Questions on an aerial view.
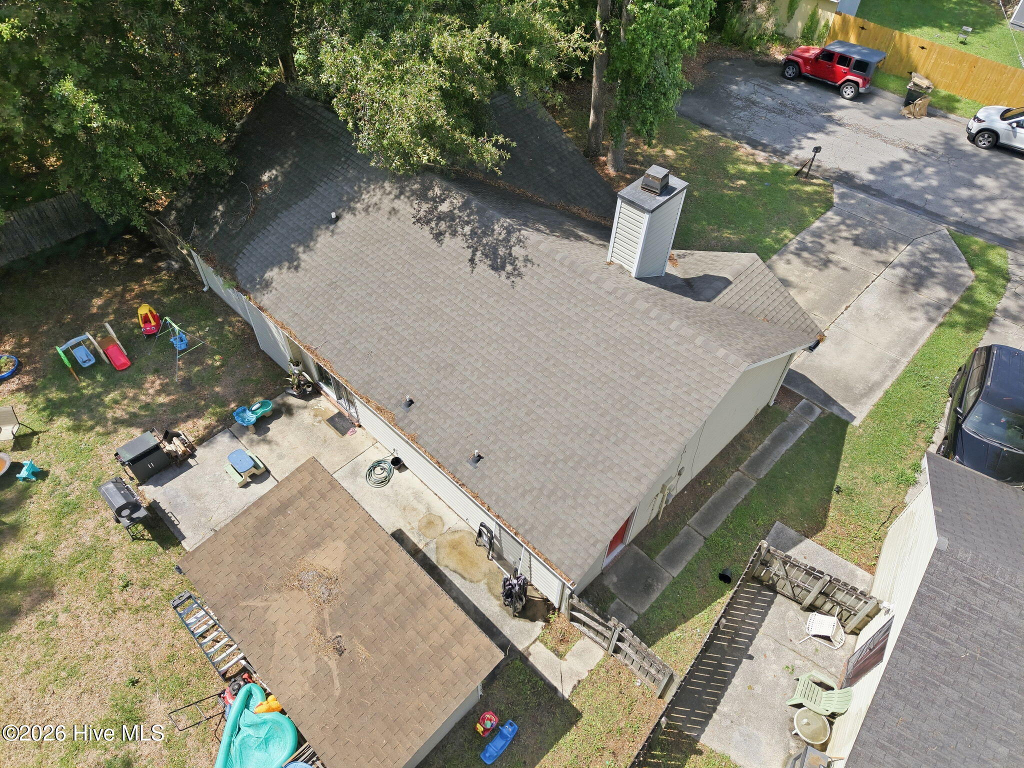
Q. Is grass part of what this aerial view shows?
Yes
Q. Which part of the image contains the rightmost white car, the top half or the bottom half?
top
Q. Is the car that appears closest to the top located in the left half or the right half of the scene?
right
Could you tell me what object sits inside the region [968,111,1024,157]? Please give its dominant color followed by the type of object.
white car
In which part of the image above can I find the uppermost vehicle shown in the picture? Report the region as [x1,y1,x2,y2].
[784,35,891,98]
